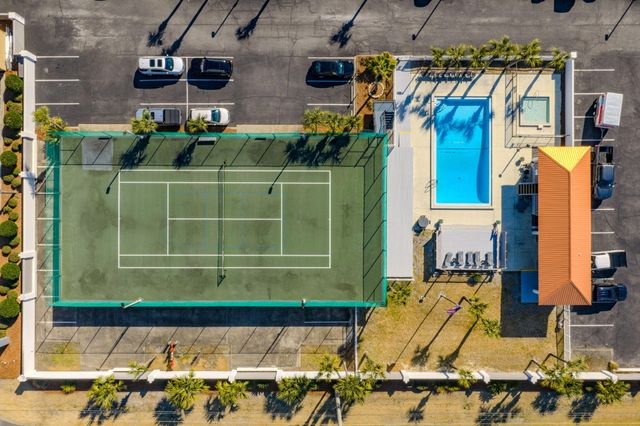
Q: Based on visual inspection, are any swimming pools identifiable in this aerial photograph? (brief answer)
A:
Yes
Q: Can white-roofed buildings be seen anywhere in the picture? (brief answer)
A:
No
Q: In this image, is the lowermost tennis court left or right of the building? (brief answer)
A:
on its left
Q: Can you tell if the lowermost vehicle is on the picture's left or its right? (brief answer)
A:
right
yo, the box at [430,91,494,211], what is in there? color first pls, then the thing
blue swimming pool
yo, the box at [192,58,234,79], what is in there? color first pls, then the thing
black car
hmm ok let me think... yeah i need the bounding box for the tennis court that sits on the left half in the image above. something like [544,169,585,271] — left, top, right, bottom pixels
[59,137,388,302]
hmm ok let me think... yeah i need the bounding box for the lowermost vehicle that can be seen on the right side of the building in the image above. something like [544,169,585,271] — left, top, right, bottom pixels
[592,284,626,304]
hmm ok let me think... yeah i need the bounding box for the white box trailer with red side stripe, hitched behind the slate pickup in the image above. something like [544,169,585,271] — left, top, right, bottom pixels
[588,93,623,142]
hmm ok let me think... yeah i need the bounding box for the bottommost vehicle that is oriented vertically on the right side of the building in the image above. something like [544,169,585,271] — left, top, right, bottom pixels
[592,147,616,200]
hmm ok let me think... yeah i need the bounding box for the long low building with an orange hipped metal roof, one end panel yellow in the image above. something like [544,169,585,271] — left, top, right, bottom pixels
[531,146,592,305]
